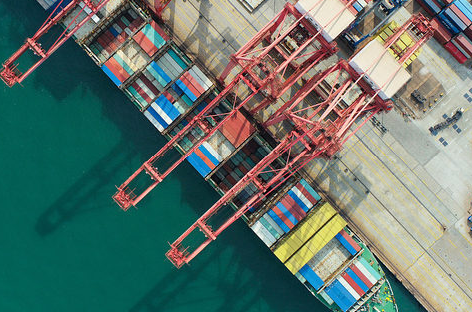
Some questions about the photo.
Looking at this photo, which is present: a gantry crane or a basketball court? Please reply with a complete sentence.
I can see a gantry crane in this picture.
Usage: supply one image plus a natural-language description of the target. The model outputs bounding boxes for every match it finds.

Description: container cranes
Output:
[0,0,111,92]
[108,0,362,219]
[338,0,410,50]
[162,11,443,275]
